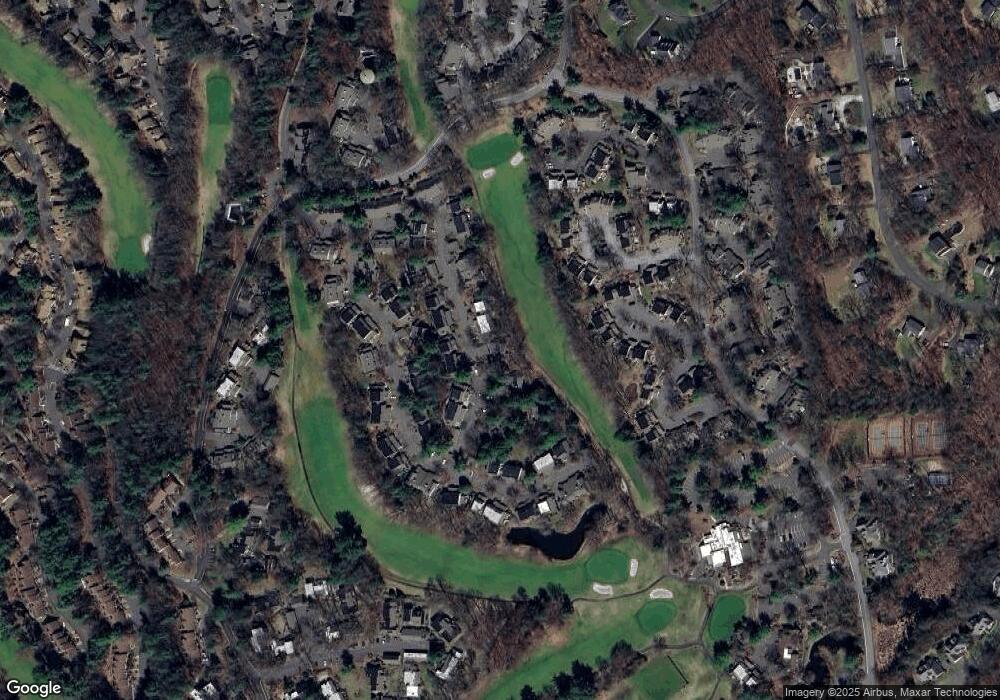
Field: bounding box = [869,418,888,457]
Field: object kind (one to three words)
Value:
tennis court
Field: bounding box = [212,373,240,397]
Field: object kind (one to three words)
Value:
house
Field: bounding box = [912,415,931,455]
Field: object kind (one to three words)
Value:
tennis court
